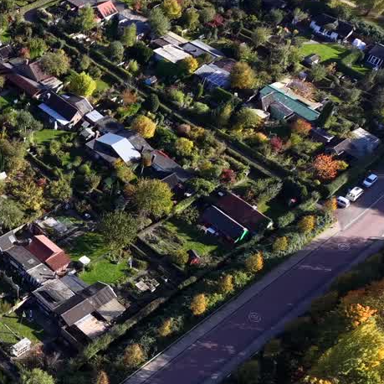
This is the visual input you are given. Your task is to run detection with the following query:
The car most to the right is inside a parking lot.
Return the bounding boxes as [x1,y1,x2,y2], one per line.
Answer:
[361,174,379,187]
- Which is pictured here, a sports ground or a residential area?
residential area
